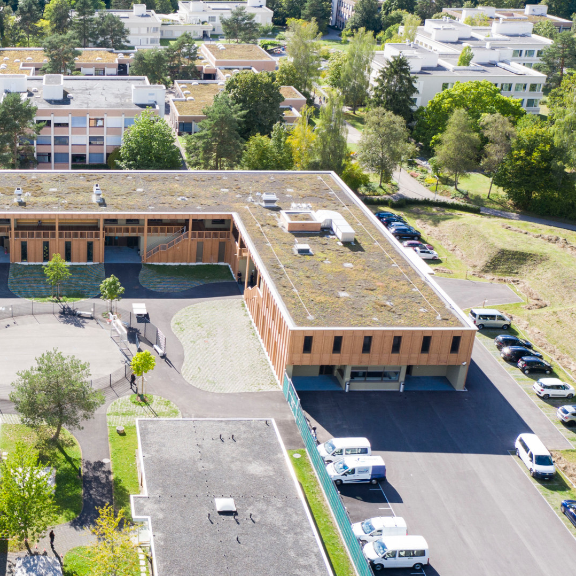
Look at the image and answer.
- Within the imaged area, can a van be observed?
Yes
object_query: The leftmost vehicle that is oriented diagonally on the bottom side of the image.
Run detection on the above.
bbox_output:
[508,435,562,480]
